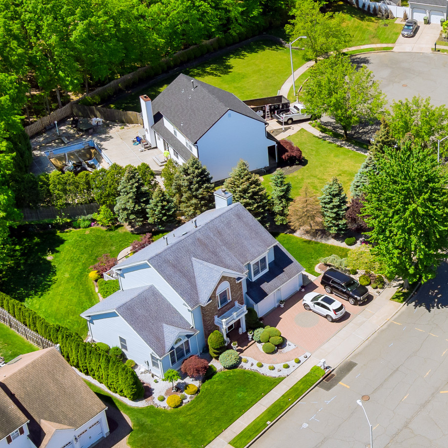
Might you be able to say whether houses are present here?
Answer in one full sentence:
Yes, this view includes a house.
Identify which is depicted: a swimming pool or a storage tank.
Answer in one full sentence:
It is a swimming pool that can be seen here.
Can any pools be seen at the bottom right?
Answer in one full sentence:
No, no pool can be made out at the bottom right.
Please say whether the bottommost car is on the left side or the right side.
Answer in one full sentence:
It is on the right.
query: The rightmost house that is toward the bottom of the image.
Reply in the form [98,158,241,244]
[75,189,305,379]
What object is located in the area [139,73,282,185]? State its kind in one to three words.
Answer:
house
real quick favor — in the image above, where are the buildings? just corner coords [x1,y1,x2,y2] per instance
[139,73,282,185]
[0,350,109,448]
[75,189,305,379]
[406,0,448,23]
